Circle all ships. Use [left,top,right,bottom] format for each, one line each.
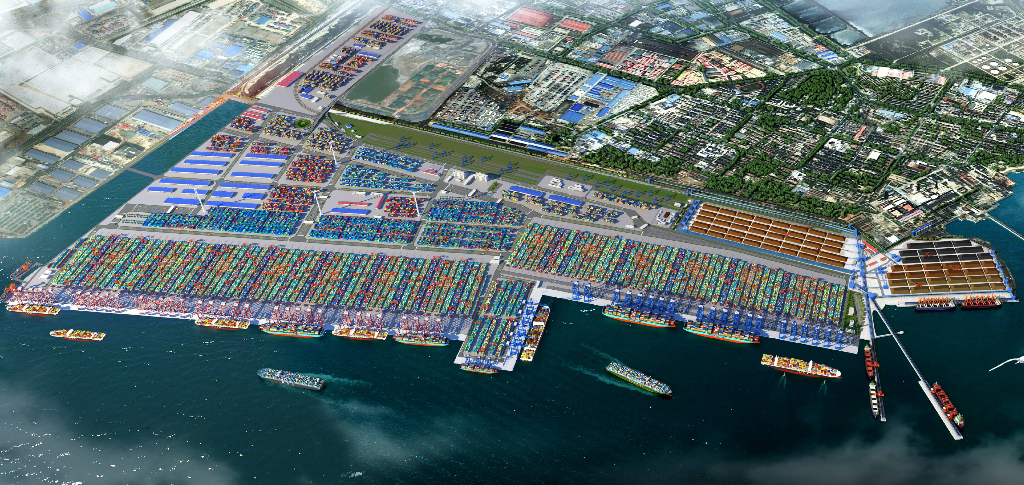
[607,363,671,396]
[935,383,965,427]
[194,320,249,331]
[257,370,323,391]
[684,322,761,345]
[332,329,387,342]
[392,337,448,349]
[916,302,957,310]
[869,382,879,416]
[49,330,104,343]
[603,307,677,328]
[963,300,1003,308]
[521,307,547,363]
[762,357,842,380]
[459,365,498,375]
[864,345,874,378]
[5,306,58,318]
[258,326,323,339]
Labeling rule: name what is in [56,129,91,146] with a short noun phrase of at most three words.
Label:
building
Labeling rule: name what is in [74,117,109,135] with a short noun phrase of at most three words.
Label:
building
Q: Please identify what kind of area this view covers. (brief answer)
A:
port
